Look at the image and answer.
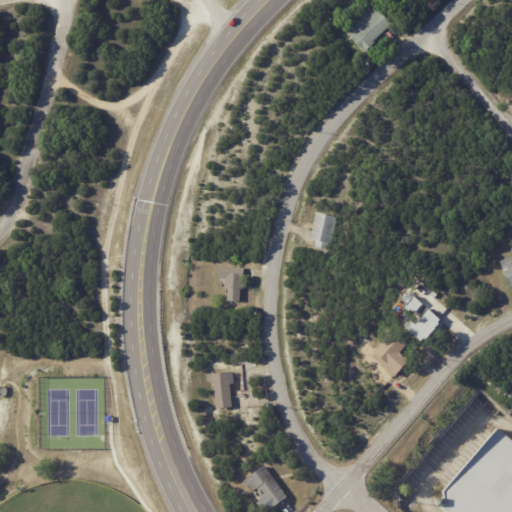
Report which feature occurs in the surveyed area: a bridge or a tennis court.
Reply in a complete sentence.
The one in the frame is a tennis court.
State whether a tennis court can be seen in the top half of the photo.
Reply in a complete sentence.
No, I see no tennis court in the top half of the photo.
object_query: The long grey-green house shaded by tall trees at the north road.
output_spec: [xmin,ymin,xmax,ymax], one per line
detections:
[347,8,392,49]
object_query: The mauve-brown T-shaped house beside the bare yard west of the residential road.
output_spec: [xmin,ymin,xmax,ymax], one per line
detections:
[218,266,244,303]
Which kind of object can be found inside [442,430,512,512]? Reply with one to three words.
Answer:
building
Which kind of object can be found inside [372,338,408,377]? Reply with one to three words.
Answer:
house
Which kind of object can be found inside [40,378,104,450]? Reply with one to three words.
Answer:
tennis court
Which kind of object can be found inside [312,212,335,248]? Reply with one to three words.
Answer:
barn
